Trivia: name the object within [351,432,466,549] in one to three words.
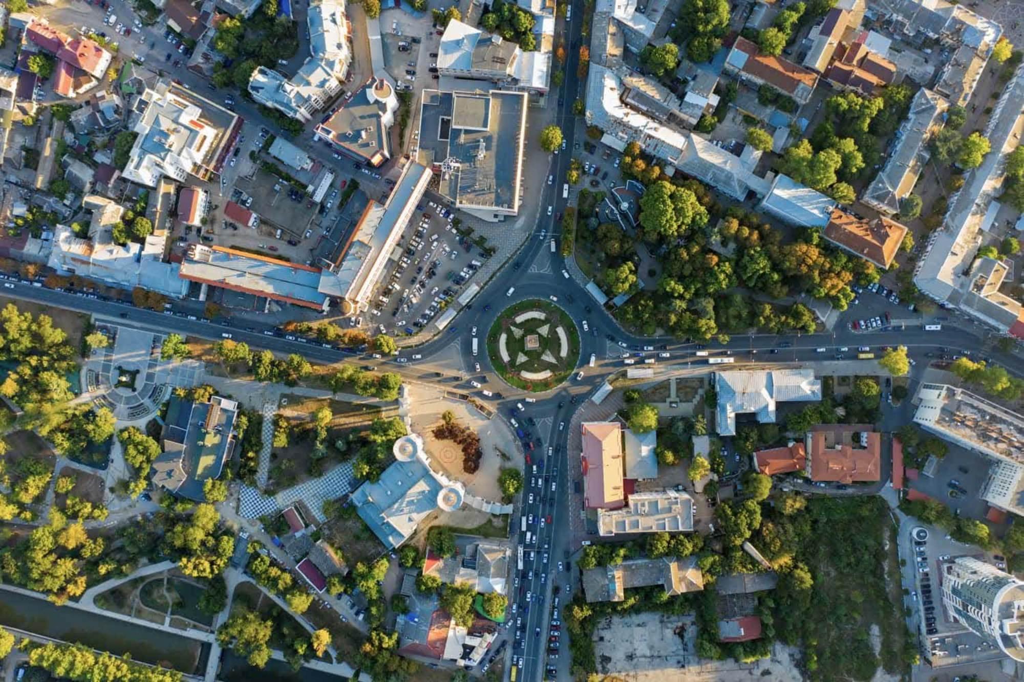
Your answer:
building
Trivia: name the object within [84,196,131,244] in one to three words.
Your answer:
house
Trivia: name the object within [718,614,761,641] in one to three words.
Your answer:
shed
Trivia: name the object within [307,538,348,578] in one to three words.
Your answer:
barn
